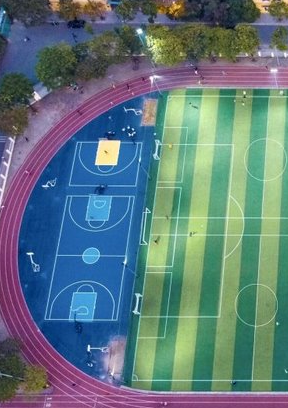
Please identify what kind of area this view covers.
sports ground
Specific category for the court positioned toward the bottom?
basketball court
